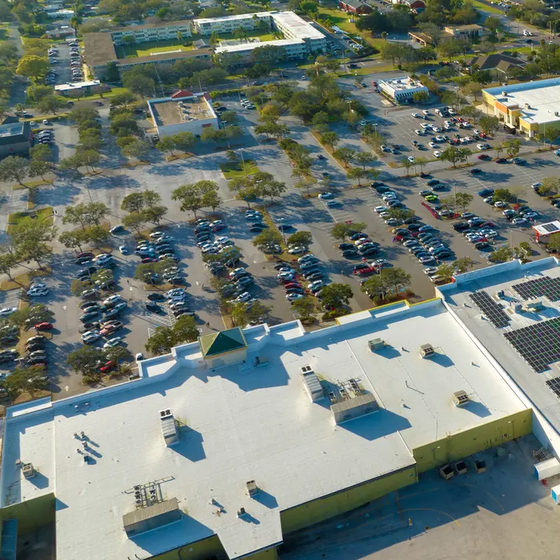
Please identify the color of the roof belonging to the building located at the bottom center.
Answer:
white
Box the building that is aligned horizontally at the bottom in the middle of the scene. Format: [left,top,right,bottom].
[0,289,535,560]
